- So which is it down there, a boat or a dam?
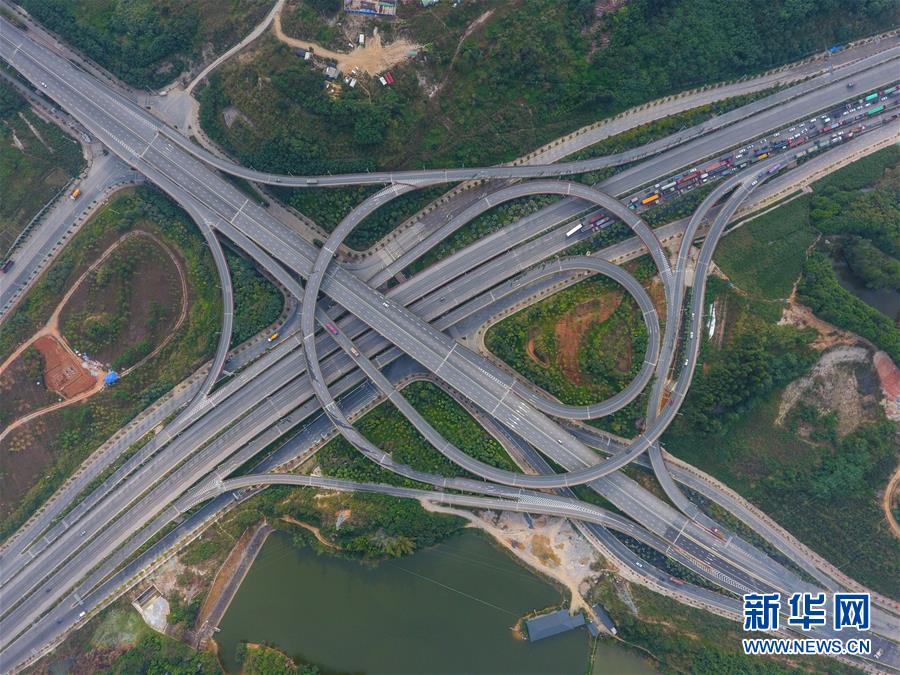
dam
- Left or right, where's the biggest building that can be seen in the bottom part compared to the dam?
on the right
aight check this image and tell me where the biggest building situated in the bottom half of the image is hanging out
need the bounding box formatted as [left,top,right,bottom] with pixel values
[526,606,573,642]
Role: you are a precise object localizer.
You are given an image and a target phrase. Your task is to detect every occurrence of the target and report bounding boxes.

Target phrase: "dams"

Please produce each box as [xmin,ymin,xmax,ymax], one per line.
[195,520,274,642]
